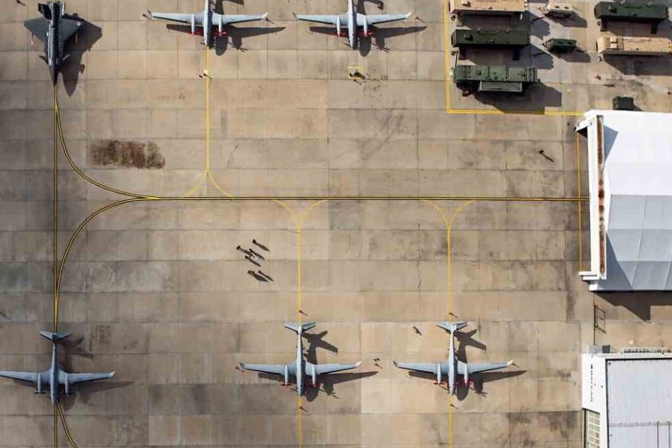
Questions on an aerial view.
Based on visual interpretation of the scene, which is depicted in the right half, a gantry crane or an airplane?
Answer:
airplane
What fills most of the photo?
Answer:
paved ground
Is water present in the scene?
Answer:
No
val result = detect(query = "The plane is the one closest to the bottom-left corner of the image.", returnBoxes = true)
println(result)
[0,330,113,402]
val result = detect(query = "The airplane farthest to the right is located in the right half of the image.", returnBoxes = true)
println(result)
[393,323,512,395]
